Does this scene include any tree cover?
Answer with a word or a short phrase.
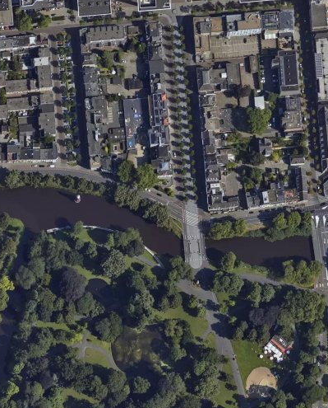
Yes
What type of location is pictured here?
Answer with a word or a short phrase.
residential area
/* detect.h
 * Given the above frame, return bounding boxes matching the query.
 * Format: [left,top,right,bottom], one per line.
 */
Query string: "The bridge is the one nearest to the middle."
[184,209,206,268]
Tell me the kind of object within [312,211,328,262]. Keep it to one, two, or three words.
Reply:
bridge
